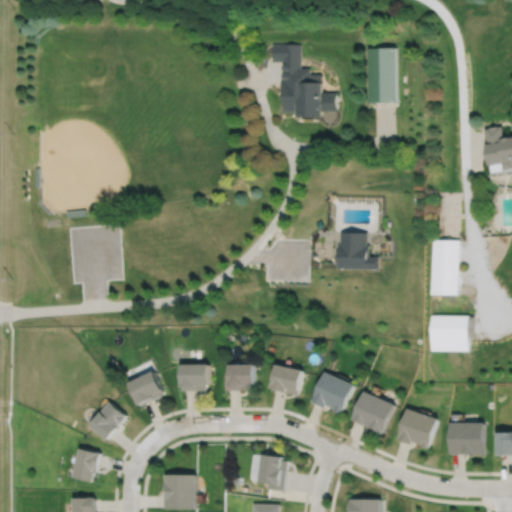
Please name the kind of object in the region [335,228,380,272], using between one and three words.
building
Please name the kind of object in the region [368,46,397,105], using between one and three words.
barn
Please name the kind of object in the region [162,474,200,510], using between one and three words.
house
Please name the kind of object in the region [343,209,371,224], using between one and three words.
swimming pool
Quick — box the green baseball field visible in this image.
[41,36,212,214]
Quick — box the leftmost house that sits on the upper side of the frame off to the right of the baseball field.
[271,42,337,121]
